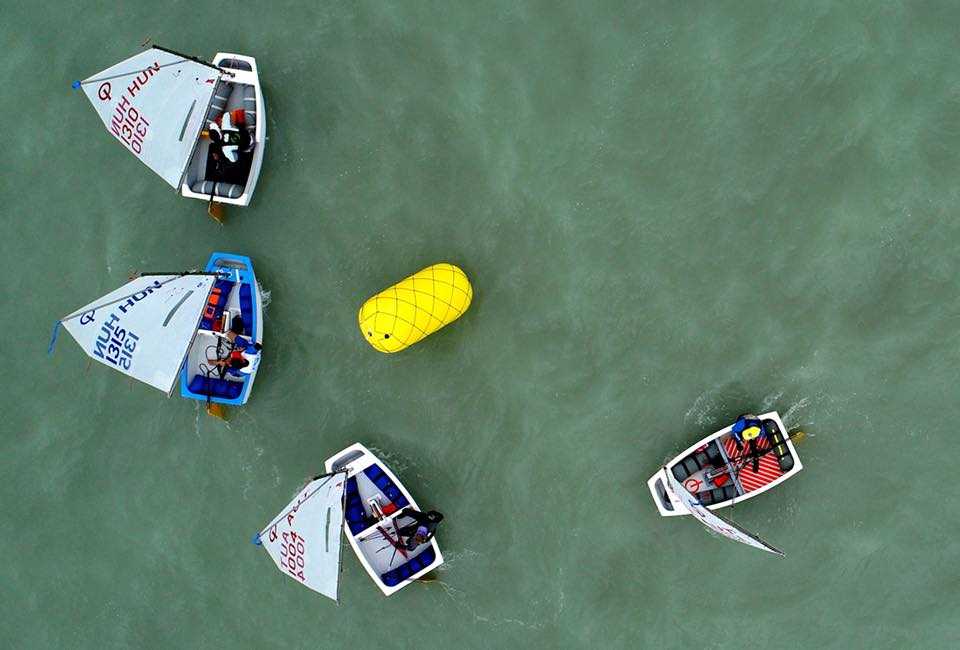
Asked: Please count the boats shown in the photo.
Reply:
4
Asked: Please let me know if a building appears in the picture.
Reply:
No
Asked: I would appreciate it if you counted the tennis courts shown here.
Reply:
0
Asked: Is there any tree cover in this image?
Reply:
No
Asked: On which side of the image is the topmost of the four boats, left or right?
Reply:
left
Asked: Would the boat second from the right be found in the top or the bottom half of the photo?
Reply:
bottom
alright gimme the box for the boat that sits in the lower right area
[644,409,806,561]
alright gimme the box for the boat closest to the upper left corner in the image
[72,38,266,218]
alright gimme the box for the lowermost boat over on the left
[250,441,446,607]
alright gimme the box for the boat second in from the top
[52,251,263,420]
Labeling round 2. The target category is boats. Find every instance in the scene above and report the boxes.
[250,441,446,607]
[52,251,263,420]
[644,409,806,561]
[72,38,266,218]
